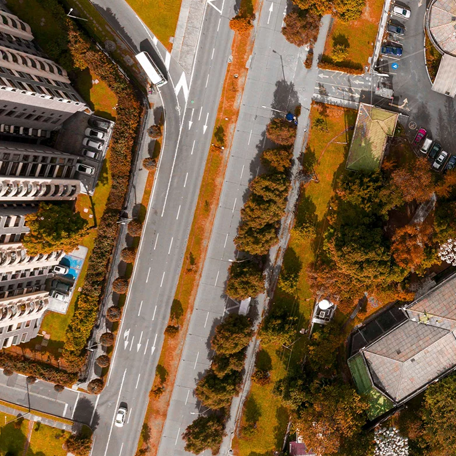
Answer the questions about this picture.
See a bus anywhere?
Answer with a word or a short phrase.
Yes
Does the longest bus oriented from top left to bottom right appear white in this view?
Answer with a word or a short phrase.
Yes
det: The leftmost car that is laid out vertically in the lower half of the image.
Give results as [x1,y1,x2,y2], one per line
[117,405,129,427]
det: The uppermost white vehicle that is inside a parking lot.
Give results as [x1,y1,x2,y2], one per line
[392,7,413,19]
